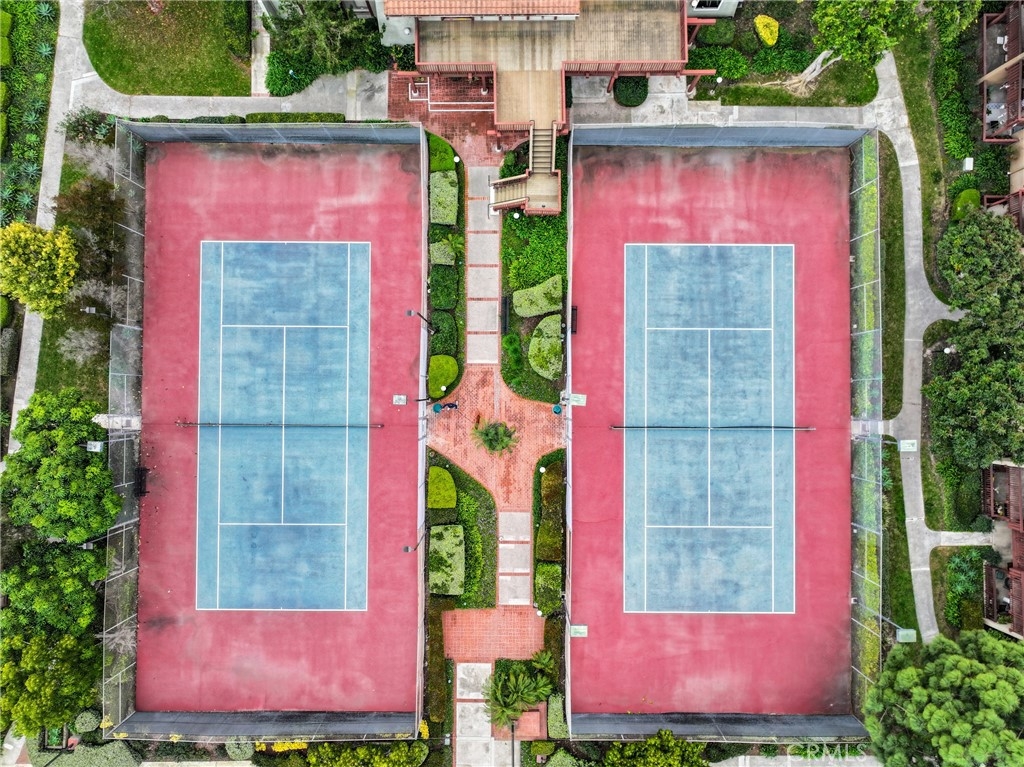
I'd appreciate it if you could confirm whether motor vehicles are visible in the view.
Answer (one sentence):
No, the photo shows no motor vehicle.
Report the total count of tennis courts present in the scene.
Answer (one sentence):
The photo contains 2 tennis courts.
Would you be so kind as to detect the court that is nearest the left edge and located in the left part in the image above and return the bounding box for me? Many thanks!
[136,142,428,712]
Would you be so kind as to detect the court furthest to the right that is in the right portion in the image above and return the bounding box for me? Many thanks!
[566,146,853,715]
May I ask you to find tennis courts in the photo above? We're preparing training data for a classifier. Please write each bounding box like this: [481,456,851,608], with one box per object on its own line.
[566,146,853,715]
[136,142,428,712]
